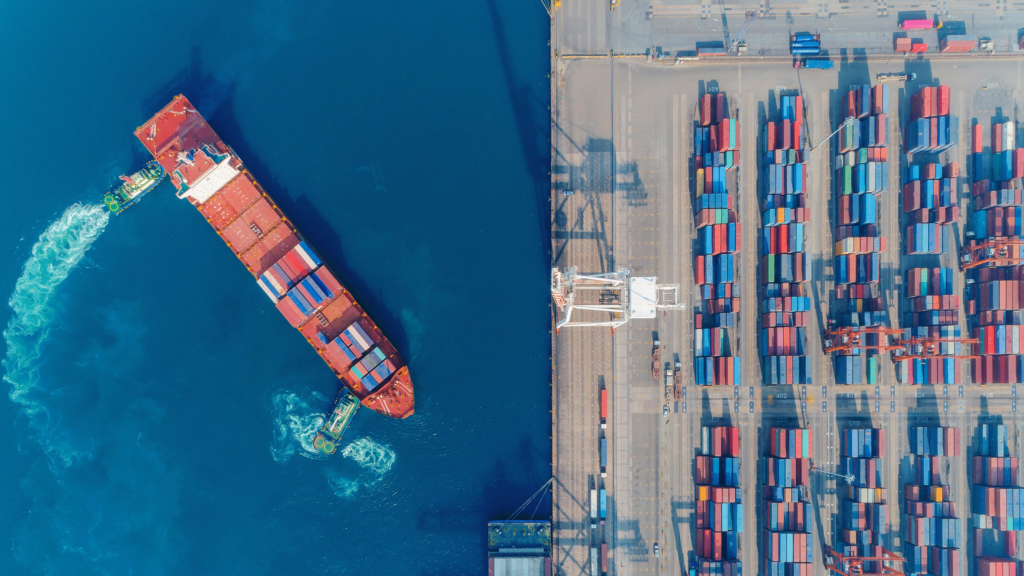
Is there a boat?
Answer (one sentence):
Yes, a boat is visible in the scene.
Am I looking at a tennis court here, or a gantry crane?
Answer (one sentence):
Of the two, only a gantry crane appears.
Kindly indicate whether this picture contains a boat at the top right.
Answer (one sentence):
No, at the top right there is no boat.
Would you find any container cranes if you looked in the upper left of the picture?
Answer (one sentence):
No, no container crane can be made out in the upper left of the picture.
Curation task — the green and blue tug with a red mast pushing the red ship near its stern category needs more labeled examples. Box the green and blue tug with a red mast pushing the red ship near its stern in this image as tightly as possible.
[103,166,160,214]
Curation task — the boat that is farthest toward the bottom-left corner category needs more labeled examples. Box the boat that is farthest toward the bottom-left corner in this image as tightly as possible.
[315,393,362,457]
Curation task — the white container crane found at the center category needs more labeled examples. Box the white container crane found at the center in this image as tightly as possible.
[553,258,683,341]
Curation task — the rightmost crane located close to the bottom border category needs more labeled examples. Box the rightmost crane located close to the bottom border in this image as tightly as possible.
[827,543,908,576]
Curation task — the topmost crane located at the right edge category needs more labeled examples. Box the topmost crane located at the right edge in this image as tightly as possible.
[964,240,1024,273]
